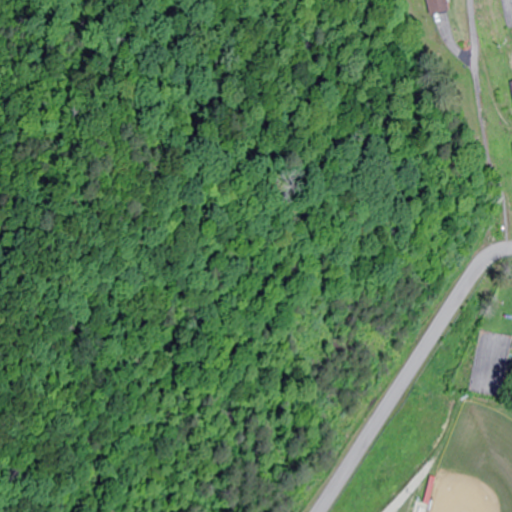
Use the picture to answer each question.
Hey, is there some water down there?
No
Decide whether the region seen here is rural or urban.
rural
